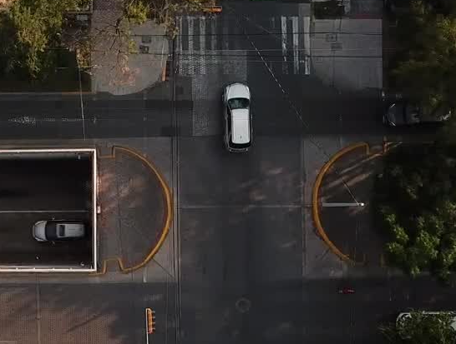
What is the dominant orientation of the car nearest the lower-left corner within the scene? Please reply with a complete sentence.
What the image shows is the car nearest the lower-left corner lying from left to right.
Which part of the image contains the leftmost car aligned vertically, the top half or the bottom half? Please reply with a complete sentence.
The top half of the photo is where the leftmost car aligned vertically is.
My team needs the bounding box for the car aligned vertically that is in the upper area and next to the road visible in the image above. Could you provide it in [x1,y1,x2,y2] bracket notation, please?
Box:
[222,84,255,152]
